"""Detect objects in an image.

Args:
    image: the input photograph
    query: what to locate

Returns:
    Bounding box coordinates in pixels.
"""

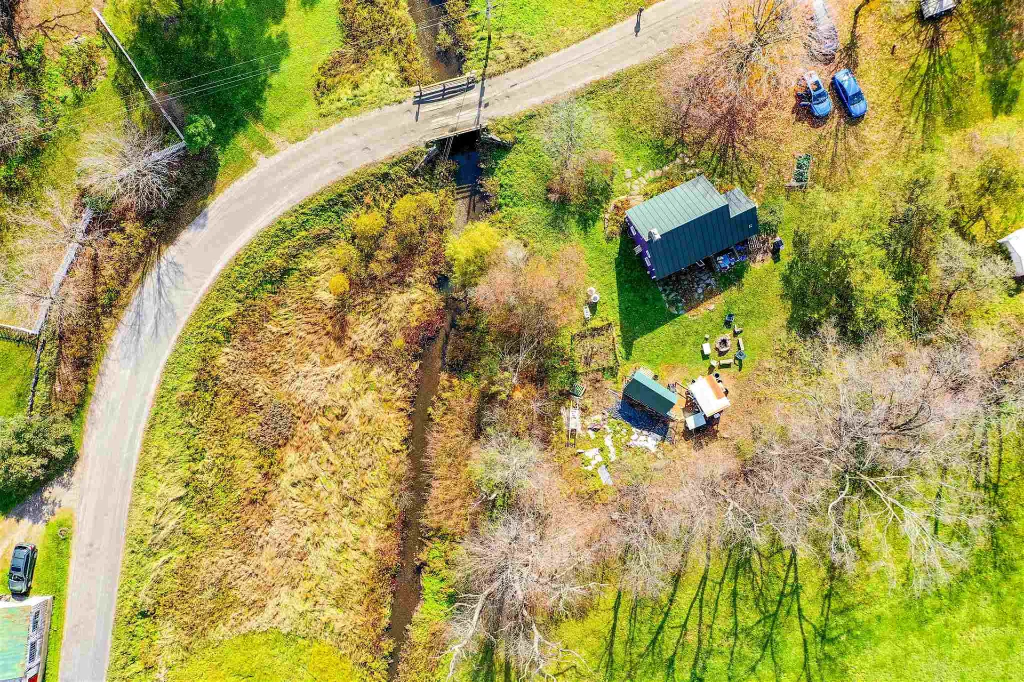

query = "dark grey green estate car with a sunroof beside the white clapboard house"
[6,542,39,596]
